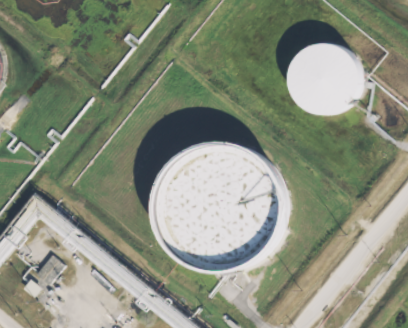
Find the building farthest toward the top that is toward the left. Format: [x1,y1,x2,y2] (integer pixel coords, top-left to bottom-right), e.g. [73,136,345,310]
[38,254,68,286]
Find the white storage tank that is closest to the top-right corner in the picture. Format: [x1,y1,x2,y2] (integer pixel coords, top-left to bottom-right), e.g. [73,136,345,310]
[286,42,366,118]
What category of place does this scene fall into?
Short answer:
industrial area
